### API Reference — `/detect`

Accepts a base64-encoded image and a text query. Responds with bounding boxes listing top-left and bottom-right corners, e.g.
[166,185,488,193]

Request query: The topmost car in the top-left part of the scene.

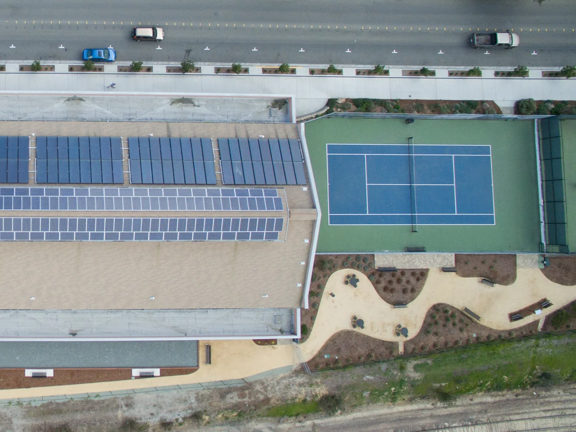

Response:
[131,26,164,42]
